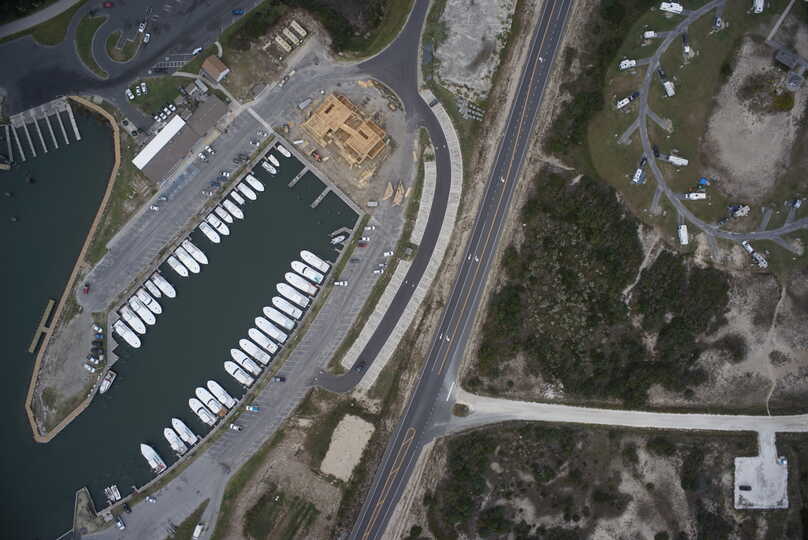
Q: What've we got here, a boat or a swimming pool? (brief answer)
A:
boat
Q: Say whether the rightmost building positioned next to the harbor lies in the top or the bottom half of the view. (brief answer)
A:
top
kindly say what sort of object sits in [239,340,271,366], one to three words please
boat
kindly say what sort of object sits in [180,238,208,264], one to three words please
boat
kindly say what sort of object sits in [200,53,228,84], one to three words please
house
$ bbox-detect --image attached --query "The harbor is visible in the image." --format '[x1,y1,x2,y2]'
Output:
[56,139,363,540]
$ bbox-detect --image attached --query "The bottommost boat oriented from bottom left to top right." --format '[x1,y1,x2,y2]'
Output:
[99,369,117,394]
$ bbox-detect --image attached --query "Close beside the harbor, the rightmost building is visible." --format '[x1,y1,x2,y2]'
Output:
[300,91,385,161]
